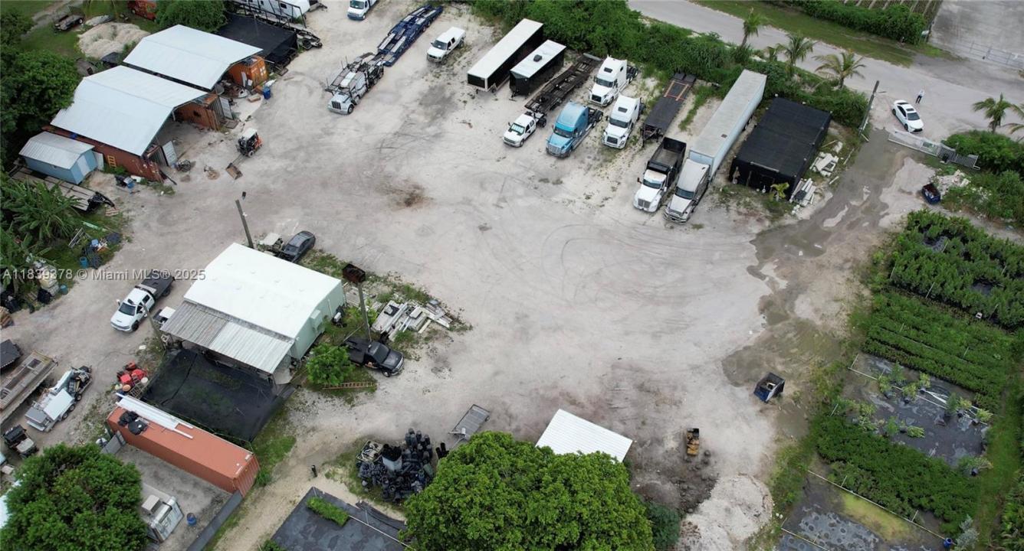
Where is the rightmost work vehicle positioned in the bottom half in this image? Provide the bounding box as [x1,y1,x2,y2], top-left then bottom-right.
[685,427,701,454]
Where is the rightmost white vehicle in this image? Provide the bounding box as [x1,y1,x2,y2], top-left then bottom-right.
[891,99,924,130]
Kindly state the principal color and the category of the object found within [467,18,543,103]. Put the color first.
white trailer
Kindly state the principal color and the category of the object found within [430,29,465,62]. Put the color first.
white truck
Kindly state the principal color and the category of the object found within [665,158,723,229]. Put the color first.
gray truck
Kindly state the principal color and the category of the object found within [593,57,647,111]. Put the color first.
white truck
